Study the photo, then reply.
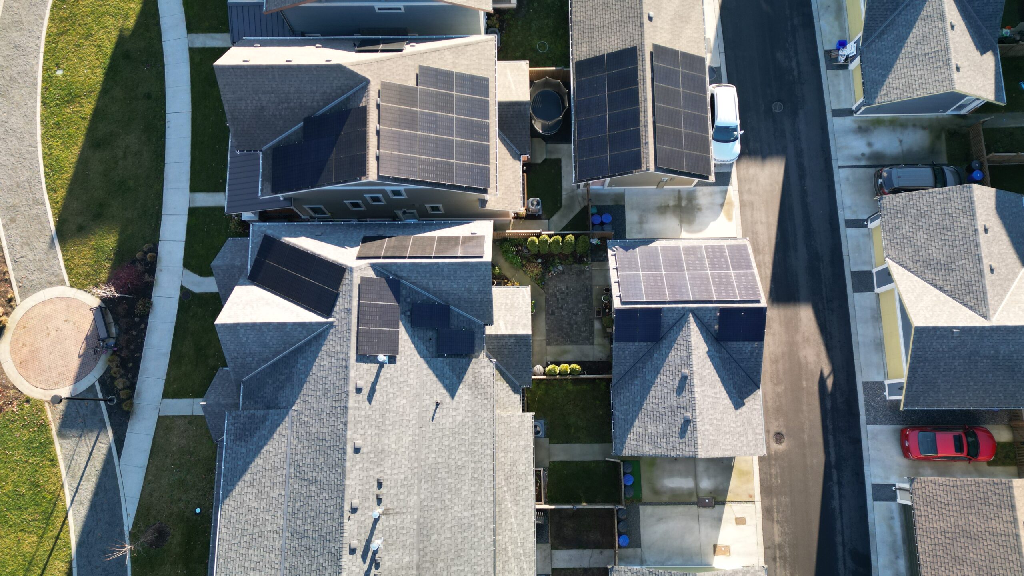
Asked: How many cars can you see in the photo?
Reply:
three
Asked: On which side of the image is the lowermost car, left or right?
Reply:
right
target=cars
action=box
[711,80,746,164]
[871,158,962,197]
[897,420,998,468]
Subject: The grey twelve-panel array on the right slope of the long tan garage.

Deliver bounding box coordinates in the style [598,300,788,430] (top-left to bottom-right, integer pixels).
[653,44,711,177]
